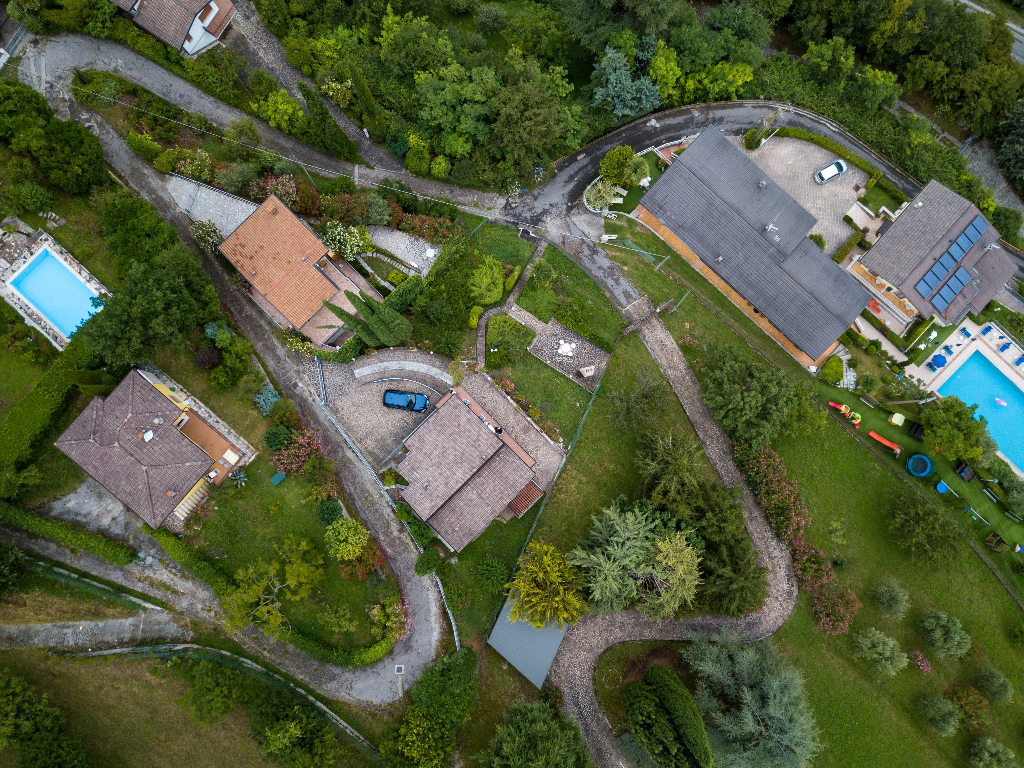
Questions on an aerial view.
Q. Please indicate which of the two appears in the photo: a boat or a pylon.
pylon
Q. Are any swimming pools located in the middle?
No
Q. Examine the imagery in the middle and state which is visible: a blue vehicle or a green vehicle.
blue vehicle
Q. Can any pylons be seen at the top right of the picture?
Yes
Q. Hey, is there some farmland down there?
No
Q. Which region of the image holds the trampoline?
right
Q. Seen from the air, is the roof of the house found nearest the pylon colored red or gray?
gray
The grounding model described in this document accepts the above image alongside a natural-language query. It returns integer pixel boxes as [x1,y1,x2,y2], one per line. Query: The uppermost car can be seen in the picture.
[809,155,852,188]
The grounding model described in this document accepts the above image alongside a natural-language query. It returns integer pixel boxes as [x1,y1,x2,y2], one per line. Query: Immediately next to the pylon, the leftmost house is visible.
[638,123,873,367]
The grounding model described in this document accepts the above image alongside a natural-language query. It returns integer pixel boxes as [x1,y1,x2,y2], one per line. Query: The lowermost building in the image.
[489,584,568,688]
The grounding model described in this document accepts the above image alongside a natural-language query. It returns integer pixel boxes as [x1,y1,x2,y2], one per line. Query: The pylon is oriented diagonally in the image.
[751,81,815,145]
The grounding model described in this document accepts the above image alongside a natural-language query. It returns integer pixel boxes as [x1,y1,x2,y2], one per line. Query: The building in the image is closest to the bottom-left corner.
[53,367,248,530]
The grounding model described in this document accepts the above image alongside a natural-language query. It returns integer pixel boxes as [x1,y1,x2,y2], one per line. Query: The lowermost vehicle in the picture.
[383,389,428,413]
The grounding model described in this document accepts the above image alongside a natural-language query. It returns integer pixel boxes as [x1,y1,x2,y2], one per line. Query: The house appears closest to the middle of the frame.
[396,381,544,553]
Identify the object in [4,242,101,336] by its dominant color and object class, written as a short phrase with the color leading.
blue swimming pool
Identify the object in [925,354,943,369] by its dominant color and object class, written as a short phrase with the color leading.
blue umbrella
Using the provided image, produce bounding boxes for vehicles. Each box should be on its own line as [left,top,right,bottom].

[809,155,852,188]
[383,389,428,413]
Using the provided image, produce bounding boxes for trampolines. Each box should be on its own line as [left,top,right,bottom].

[905,454,938,477]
